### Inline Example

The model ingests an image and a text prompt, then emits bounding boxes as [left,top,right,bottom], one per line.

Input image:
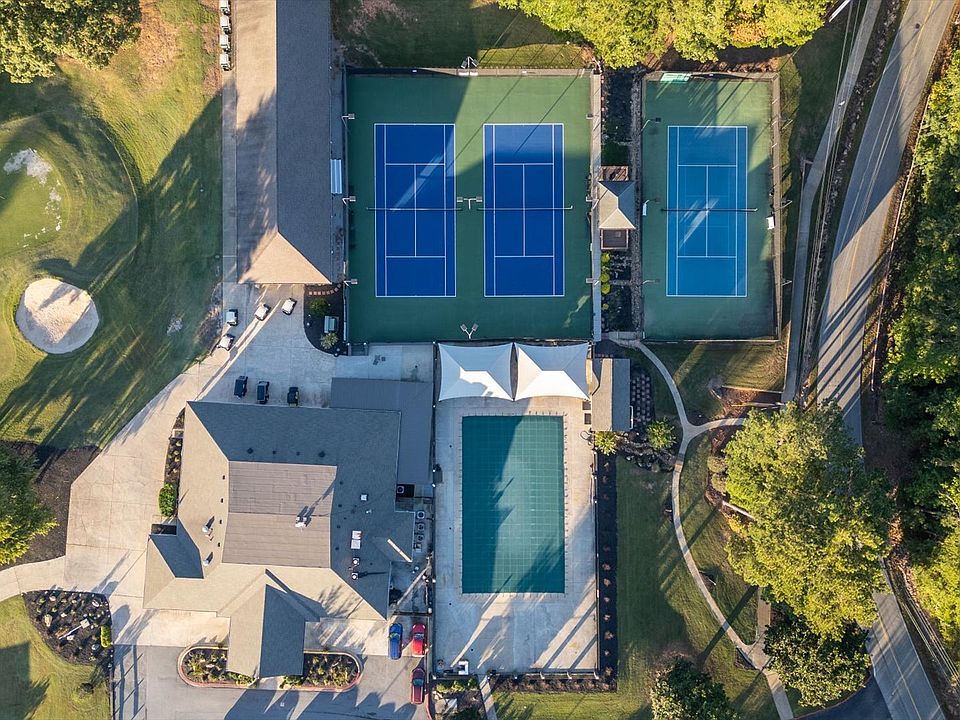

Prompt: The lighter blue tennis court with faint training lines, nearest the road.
[645,80,775,338]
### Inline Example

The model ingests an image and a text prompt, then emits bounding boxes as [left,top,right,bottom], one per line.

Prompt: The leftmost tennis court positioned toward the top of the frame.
[346,75,469,342]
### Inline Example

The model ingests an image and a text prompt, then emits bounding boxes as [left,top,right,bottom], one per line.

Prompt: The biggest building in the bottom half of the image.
[144,402,415,679]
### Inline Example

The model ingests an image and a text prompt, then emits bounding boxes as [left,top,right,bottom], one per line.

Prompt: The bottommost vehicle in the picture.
[410,669,425,706]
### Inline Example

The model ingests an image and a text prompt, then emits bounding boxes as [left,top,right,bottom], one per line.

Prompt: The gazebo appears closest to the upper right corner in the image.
[598,164,636,249]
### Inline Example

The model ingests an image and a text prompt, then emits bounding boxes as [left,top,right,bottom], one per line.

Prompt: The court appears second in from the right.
[469,75,593,342]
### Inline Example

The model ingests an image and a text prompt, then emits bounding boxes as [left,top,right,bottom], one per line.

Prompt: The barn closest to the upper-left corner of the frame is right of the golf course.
[237,0,333,283]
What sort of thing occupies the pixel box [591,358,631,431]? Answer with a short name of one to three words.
building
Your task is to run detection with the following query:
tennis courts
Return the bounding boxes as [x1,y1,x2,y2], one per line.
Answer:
[346,75,469,342]
[645,80,775,338]
[469,75,593,342]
